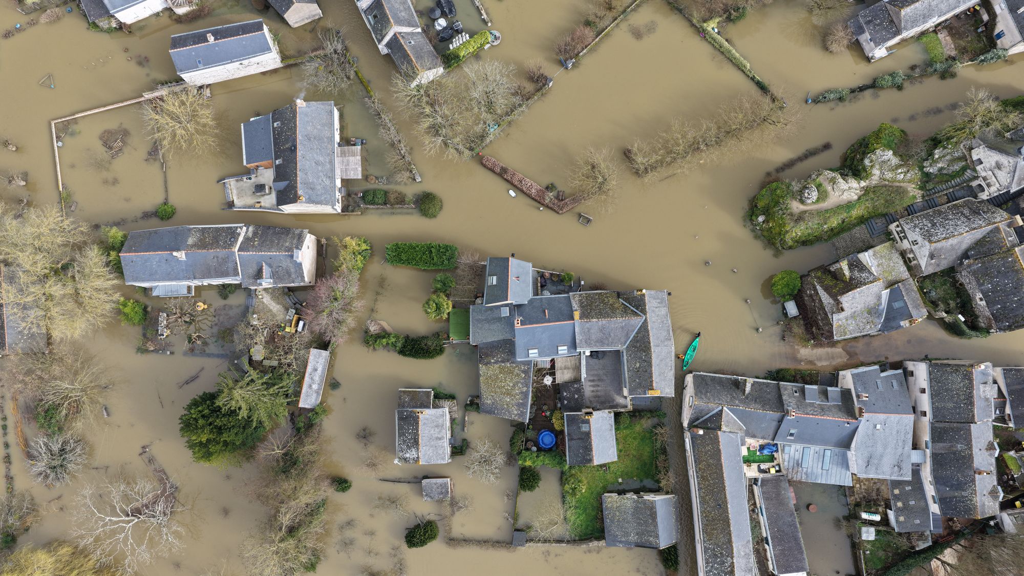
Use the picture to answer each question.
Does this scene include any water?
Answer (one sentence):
Yes, there is water in the image.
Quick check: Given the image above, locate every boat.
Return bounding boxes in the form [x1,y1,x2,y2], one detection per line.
[684,336,700,369]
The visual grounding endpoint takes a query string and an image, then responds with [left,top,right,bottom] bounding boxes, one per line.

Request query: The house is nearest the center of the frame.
[483,257,533,305]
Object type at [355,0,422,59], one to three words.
house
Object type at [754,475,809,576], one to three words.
barn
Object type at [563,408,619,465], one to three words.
house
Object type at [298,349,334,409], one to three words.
shed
